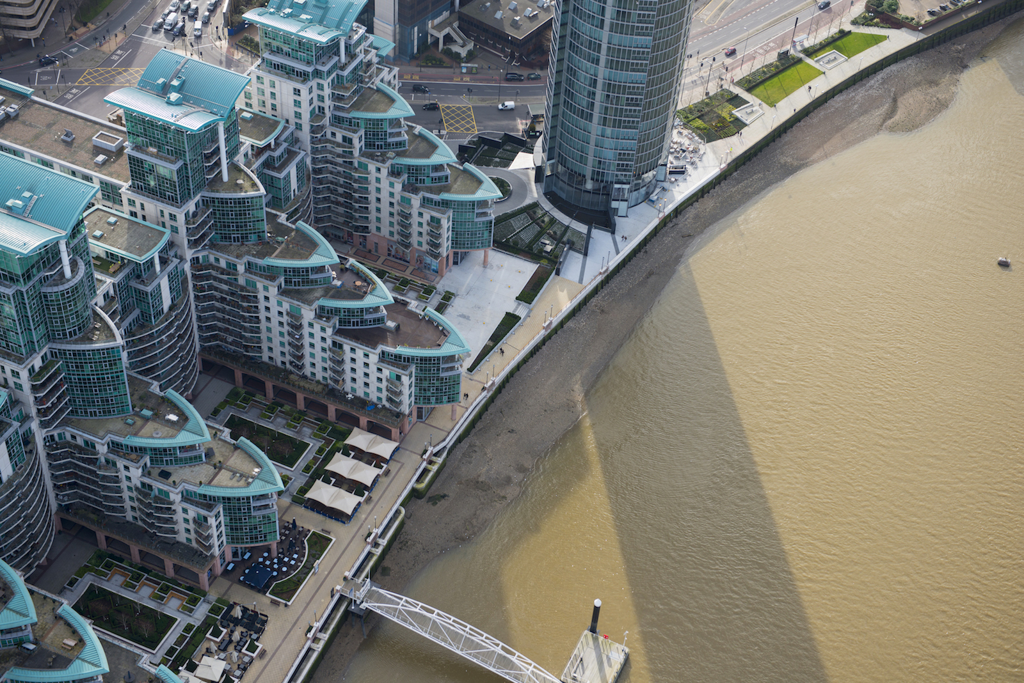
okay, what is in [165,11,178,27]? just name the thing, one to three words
vehicle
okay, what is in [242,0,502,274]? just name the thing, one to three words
building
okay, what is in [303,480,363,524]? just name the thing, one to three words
tent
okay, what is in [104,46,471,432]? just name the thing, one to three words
building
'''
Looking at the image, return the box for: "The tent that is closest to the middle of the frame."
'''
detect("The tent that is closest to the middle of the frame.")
[344,428,400,468]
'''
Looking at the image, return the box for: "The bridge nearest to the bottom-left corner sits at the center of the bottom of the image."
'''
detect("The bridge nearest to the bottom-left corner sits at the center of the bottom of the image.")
[362,583,567,683]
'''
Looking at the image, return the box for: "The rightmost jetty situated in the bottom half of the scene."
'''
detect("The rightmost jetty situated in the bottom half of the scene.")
[558,625,632,683]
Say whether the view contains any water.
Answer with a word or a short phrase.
Yes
